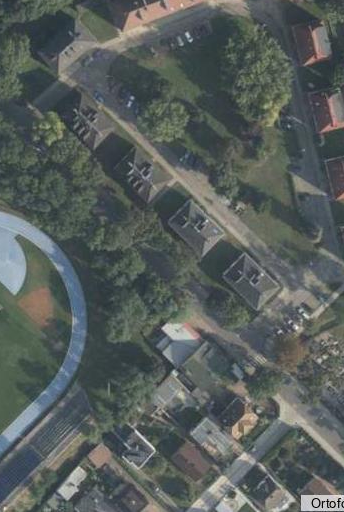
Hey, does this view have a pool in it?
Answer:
No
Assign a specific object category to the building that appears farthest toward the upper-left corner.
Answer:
home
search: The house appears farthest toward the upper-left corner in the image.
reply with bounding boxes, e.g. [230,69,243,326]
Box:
[41,17,97,72]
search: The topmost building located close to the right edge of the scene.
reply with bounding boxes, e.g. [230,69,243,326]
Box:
[291,20,331,67]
